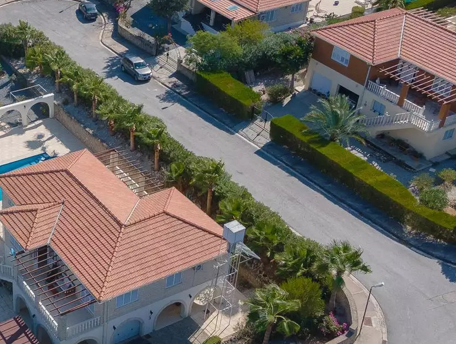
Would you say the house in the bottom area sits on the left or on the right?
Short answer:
left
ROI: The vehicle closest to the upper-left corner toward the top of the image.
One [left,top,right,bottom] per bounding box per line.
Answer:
[78,0,99,18]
